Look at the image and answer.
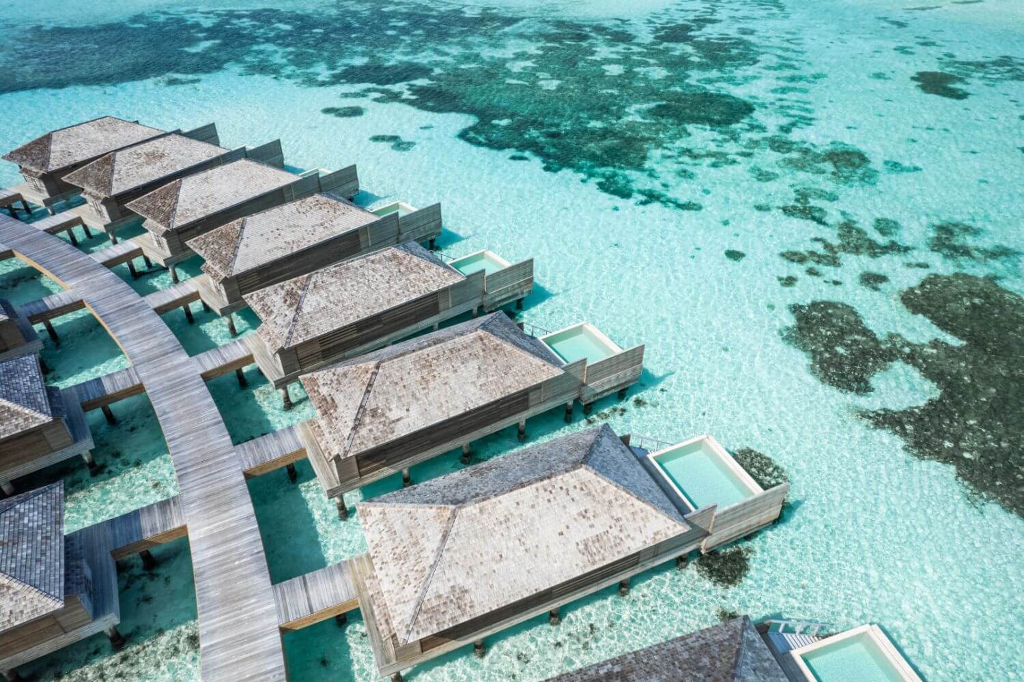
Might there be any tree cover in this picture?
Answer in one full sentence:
No, tree cover can't be seen anywhere here.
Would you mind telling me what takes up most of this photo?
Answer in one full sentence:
The scene is dominated by water.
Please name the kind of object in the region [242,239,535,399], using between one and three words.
house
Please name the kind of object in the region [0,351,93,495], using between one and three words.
house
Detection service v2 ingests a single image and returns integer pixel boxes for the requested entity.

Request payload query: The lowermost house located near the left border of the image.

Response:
[0,478,119,679]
